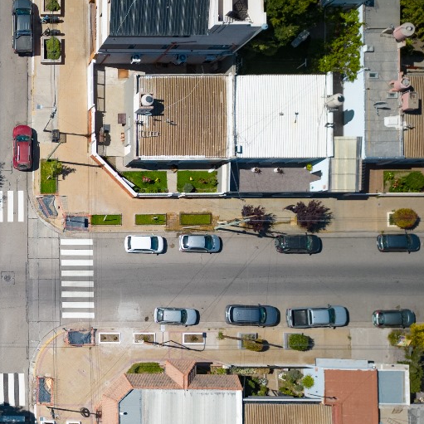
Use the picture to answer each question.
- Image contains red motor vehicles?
Yes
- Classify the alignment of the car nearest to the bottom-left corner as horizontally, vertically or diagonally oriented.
horizontally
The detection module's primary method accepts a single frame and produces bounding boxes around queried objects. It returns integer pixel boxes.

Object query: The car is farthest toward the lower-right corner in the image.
[369,307,415,330]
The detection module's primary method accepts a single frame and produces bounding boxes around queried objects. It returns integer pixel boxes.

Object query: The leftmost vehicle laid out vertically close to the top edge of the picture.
[12,0,35,57]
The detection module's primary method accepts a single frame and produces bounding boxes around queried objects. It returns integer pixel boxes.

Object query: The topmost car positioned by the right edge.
[373,231,419,254]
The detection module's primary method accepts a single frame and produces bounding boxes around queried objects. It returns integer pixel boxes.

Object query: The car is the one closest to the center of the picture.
[177,233,220,254]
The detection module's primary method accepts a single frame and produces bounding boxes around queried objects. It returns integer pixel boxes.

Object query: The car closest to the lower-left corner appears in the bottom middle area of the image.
[152,306,199,328]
